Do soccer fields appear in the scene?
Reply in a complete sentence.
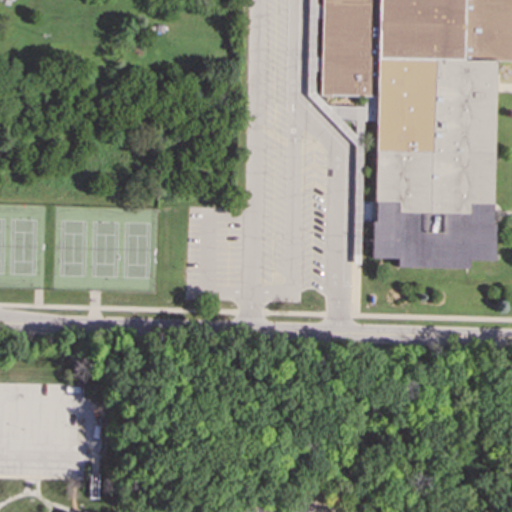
No, there's no soccer field here.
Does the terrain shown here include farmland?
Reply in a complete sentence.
No, the scene doesn't show any farmland.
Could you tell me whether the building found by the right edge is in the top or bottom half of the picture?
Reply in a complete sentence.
It is in the top half that the building found by the right edge appears.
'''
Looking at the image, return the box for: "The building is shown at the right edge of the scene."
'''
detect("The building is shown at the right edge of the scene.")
[372,0,512,273]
